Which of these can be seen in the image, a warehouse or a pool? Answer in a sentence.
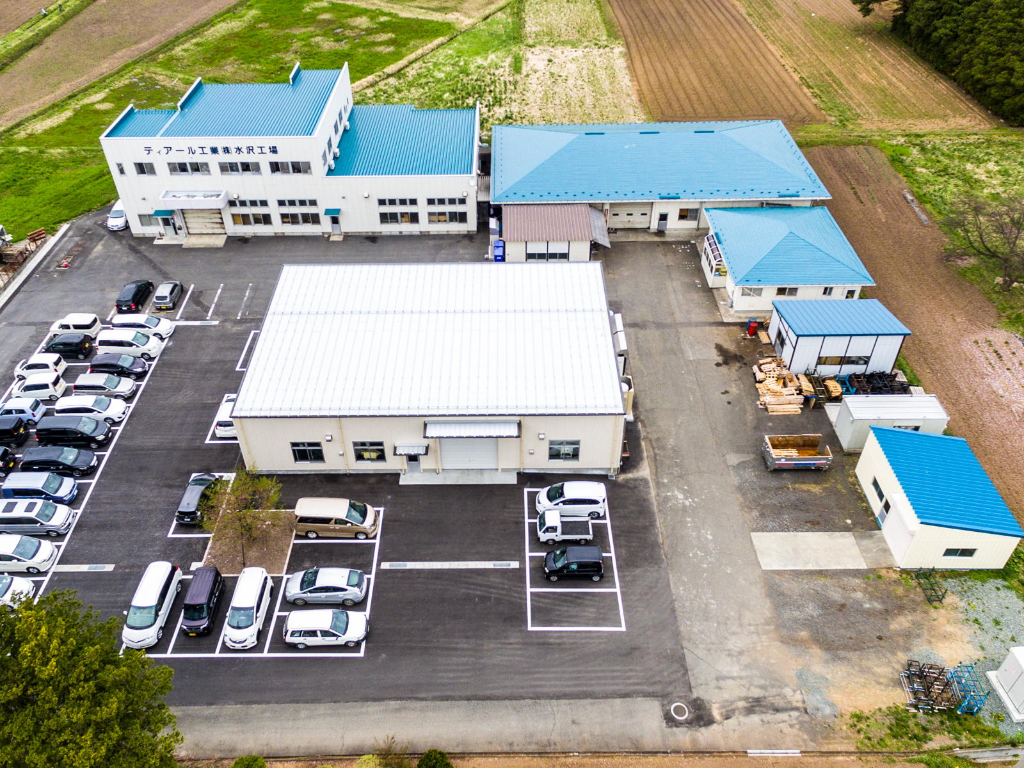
This aerial view contains a warehouse.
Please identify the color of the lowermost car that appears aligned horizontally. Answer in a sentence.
The color of the lowermost car that appears aligned horizontally is white.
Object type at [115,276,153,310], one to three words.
car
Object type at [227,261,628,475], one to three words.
warehouse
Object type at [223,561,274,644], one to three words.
car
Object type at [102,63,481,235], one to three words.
building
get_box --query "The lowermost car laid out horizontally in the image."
[278,607,373,649]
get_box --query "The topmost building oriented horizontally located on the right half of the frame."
[491,121,832,230]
